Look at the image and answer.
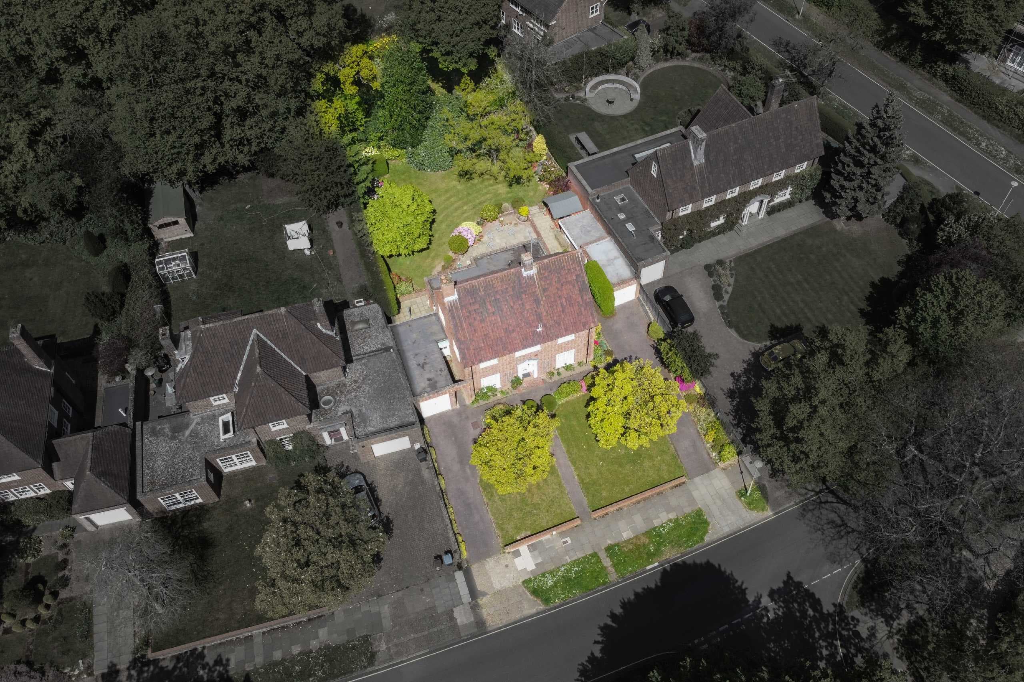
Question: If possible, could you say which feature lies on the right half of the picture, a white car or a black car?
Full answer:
The one visible on the right half of the picture is a black car.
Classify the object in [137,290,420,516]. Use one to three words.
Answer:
house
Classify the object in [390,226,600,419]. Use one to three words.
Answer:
house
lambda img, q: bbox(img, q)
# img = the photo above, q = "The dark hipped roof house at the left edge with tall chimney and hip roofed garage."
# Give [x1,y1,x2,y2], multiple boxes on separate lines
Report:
[0,319,150,531]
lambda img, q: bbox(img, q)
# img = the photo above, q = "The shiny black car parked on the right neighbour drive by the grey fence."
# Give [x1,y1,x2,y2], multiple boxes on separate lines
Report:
[655,285,696,332]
